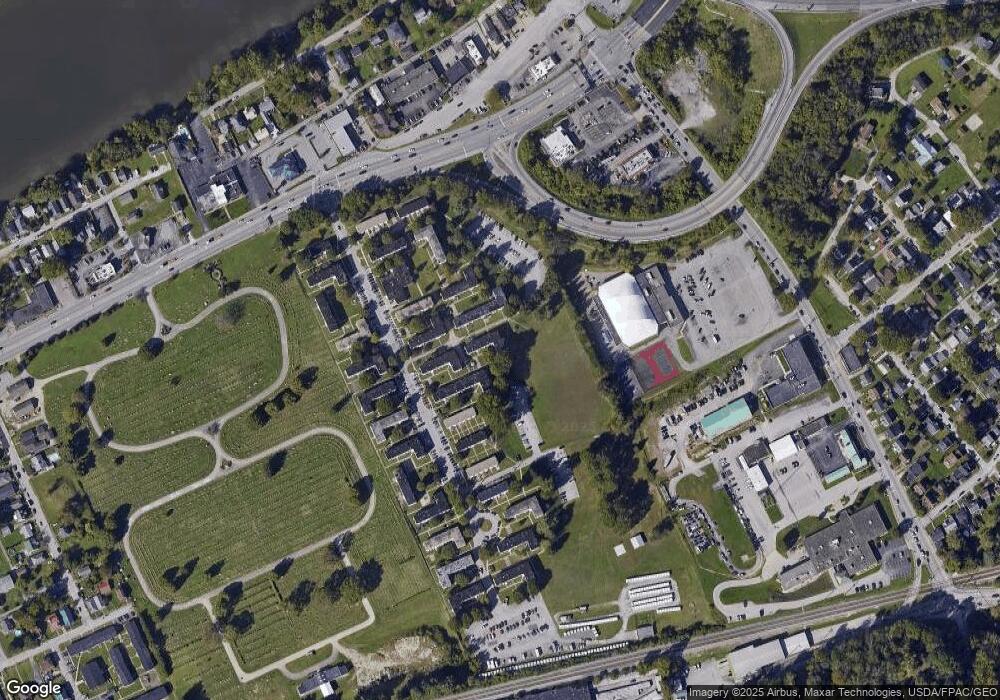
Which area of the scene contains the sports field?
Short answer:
center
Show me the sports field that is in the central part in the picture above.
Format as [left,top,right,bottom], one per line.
[531,308,612,443]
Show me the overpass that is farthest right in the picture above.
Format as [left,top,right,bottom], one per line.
[715,174,750,208]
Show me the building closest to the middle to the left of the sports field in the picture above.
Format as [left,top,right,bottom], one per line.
[464,327,511,355]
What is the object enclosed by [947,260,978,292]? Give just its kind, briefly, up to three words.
house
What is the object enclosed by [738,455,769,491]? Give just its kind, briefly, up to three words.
shed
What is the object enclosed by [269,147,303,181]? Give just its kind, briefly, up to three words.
building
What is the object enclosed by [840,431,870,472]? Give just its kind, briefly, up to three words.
building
